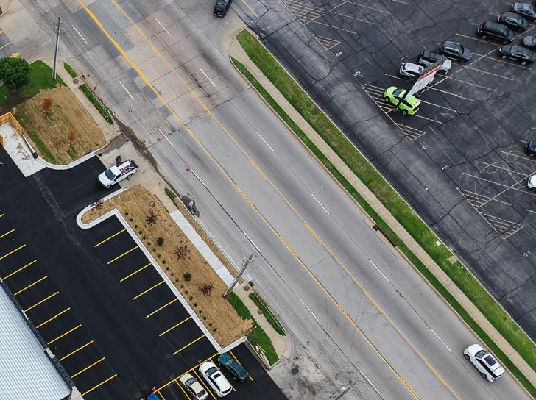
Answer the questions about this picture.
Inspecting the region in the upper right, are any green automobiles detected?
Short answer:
Yes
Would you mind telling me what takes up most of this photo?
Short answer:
paved ground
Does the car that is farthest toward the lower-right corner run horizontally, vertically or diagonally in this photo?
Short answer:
diagonally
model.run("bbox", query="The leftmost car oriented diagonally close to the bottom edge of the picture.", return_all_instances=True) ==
[176,371,210,400]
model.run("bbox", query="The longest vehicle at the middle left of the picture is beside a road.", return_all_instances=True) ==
[97,159,140,190]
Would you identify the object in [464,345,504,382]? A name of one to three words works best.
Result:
car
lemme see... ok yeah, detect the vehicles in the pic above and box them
[510,1,536,24]
[398,59,426,77]
[383,90,421,114]
[524,138,536,155]
[476,20,514,47]
[499,45,536,66]
[198,362,232,398]
[214,0,231,17]
[437,39,473,63]
[97,159,140,190]
[495,8,530,33]
[146,391,163,400]
[527,175,536,191]
[215,351,252,386]
[464,345,504,382]
[520,36,536,51]
[176,371,210,400]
